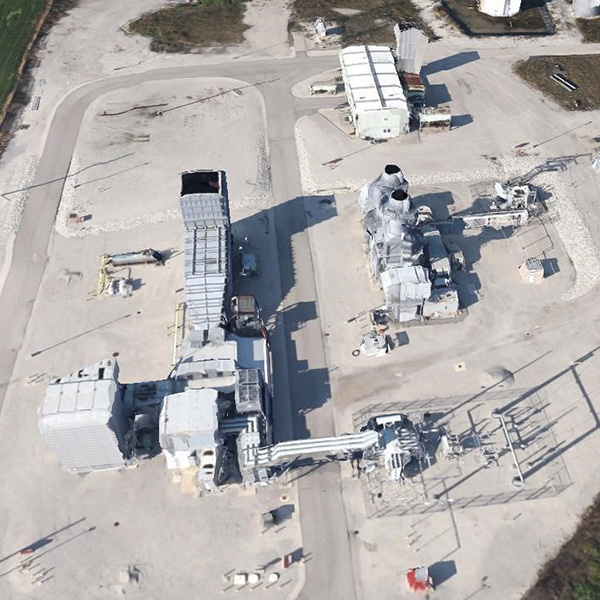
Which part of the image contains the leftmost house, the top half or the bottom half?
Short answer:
bottom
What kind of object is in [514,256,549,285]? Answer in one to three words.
shed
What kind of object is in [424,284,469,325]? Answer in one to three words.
building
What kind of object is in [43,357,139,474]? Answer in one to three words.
house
